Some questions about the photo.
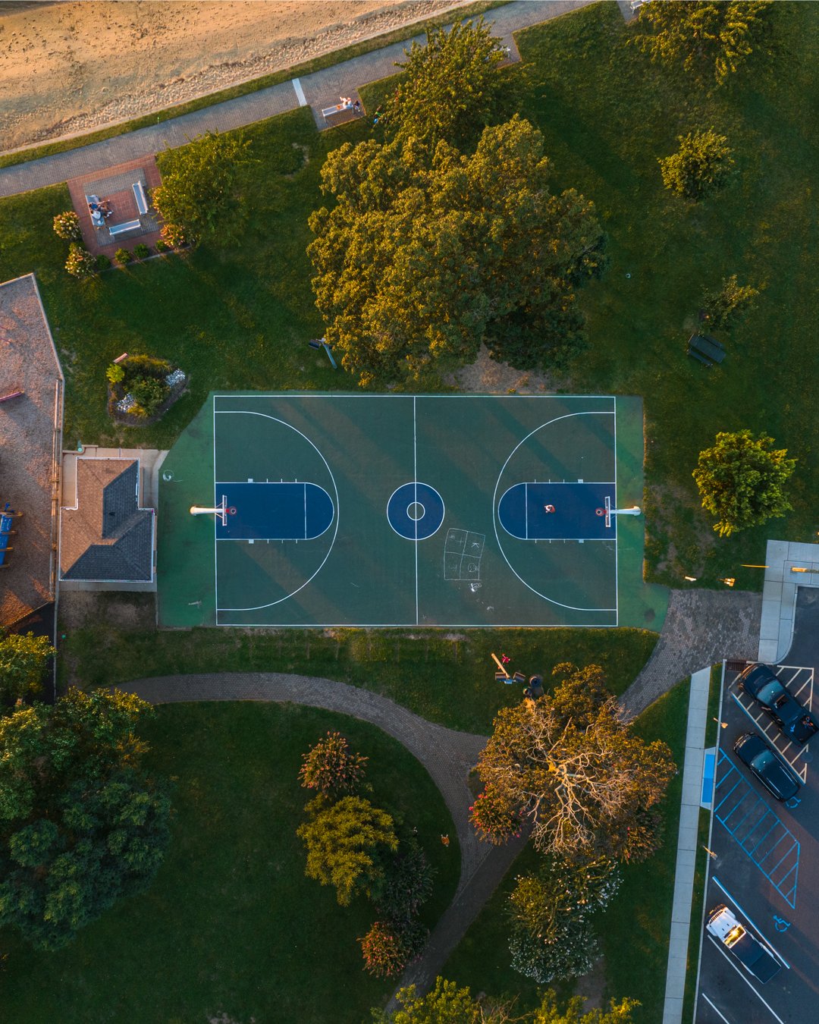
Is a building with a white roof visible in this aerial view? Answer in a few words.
No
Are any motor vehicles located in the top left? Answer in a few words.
No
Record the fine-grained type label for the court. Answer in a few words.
basketball court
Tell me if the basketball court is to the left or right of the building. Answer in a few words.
on its right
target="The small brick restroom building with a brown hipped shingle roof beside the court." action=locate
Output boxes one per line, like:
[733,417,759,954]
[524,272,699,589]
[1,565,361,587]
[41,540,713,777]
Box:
[60,457,158,582]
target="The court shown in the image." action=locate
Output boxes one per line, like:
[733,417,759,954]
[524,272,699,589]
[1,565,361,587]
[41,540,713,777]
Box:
[158,392,670,632]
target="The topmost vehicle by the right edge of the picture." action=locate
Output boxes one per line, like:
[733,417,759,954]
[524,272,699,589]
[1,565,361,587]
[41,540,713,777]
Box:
[740,663,819,749]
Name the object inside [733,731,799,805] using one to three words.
car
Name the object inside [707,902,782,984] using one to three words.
truck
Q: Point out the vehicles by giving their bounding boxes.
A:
[707,902,782,984]
[733,731,799,805]
[740,663,819,749]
